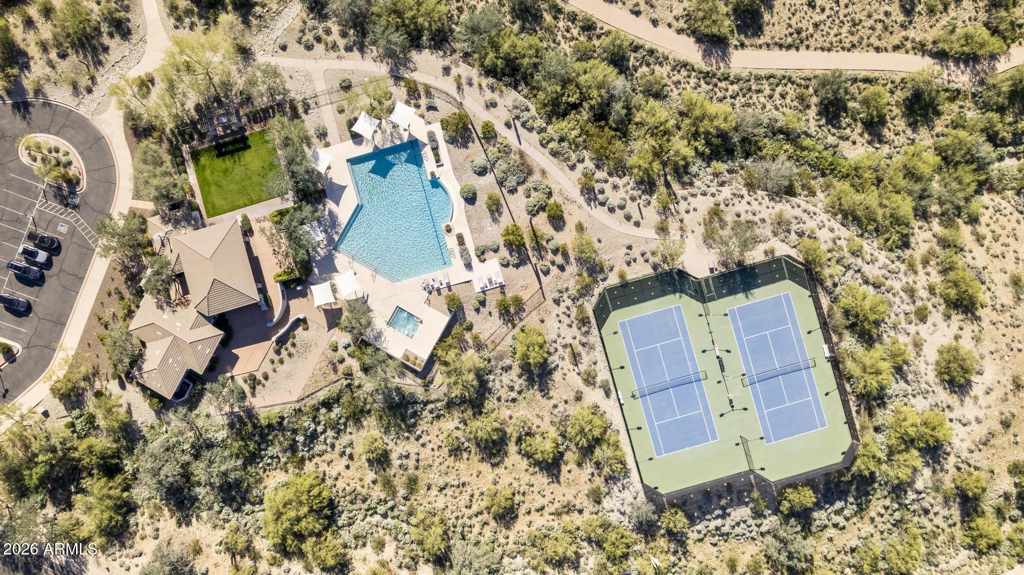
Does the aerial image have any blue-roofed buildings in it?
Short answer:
No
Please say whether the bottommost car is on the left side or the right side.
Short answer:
left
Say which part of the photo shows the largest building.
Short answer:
left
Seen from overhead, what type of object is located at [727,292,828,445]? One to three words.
tennis court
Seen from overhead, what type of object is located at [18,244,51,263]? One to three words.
car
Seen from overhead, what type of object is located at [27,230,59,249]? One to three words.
car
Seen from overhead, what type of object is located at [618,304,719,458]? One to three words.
tennis court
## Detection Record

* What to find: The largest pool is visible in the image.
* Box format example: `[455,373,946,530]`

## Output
[334,139,453,283]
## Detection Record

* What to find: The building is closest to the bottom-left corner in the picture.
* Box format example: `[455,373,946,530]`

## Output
[128,214,262,399]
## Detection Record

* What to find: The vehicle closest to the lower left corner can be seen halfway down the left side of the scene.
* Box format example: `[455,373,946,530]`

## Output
[0,291,29,311]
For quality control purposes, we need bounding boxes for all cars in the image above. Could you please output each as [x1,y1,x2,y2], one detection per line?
[18,244,51,263]
[7,260,42,280]
[27,230,59,249]
[0,291,29,311]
